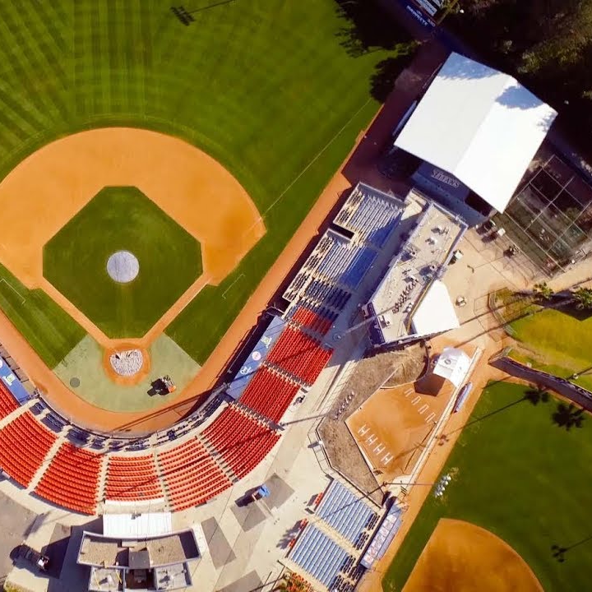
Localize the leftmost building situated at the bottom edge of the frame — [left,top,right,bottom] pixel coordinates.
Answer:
[76,526,202,592]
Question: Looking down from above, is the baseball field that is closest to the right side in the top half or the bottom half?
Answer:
bottom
